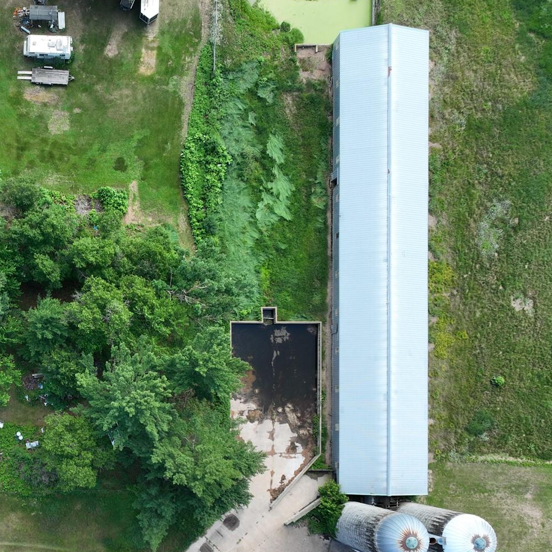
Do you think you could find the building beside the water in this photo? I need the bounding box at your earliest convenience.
[329,24,428,496]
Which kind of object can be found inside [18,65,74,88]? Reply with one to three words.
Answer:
trailer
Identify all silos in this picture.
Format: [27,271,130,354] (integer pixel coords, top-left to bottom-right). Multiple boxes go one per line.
[399,501,499,552]
[336,501,431,552]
